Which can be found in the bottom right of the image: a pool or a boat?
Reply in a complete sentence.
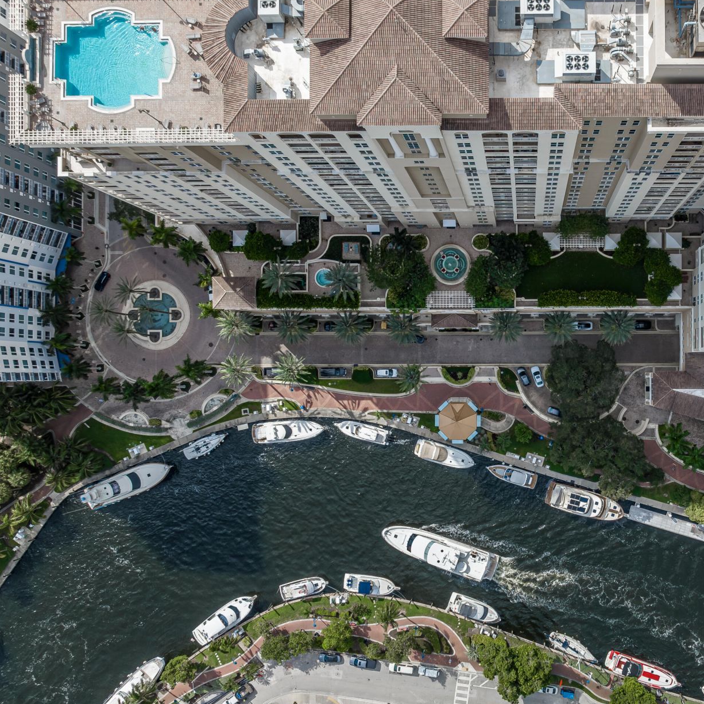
The one visible in the bottom right of the image is a boat.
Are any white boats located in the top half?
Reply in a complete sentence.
No, there is no white boat in the top half.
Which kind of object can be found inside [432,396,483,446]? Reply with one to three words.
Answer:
gazebo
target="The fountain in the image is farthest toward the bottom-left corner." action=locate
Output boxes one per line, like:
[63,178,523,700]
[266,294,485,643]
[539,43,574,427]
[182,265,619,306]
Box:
[118,410,147,424]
